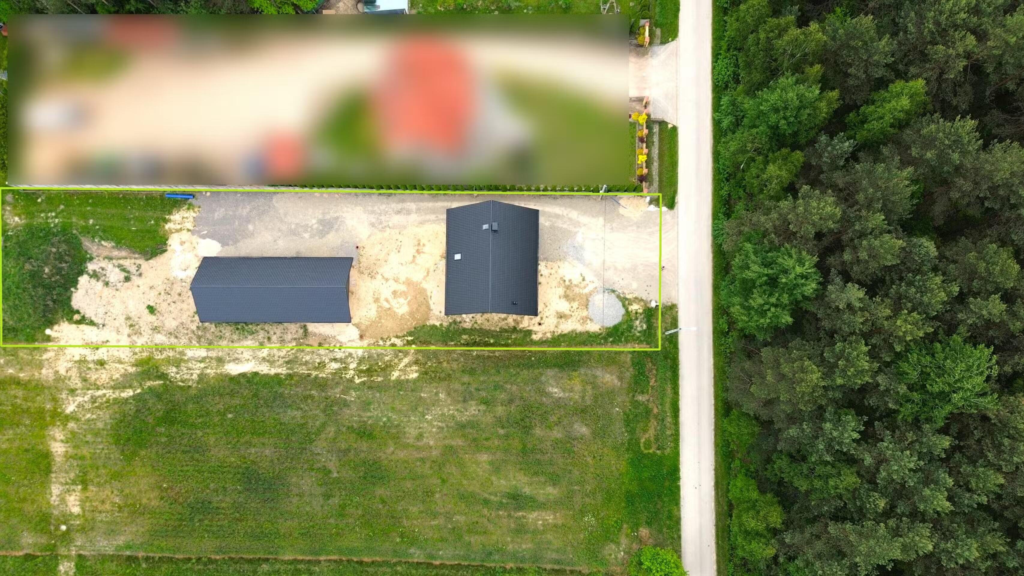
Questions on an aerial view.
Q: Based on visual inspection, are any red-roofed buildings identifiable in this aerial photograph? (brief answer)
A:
Yes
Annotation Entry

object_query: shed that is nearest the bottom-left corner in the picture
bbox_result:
[189,256,356,324]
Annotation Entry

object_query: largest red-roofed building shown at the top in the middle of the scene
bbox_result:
[378,34,475,156]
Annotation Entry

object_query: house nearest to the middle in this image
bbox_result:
[444,200,540,317]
